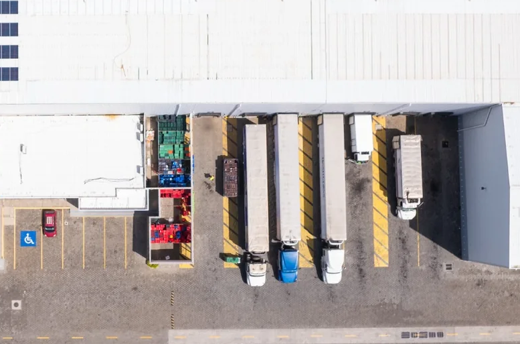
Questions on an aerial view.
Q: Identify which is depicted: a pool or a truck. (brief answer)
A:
truck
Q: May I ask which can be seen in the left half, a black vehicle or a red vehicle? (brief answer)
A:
red vehicle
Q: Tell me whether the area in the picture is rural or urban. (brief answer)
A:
urban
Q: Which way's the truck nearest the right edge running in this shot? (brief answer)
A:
up and down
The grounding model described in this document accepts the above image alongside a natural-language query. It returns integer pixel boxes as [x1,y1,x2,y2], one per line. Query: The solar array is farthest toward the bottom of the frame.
[0,67,19,80]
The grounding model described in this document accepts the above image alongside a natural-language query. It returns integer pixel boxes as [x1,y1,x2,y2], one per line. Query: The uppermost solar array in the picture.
[0,1,19,14]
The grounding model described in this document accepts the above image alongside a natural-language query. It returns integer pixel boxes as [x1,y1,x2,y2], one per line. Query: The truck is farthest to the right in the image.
[388,134,422,219]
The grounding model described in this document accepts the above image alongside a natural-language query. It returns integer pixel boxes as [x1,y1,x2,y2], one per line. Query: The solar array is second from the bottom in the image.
[0,45,19,59]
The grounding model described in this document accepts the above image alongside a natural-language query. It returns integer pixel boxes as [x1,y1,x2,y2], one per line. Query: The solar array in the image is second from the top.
[0,22,19,37]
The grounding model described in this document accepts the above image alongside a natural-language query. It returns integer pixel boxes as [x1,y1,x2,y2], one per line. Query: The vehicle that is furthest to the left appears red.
[41,210,58,239]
